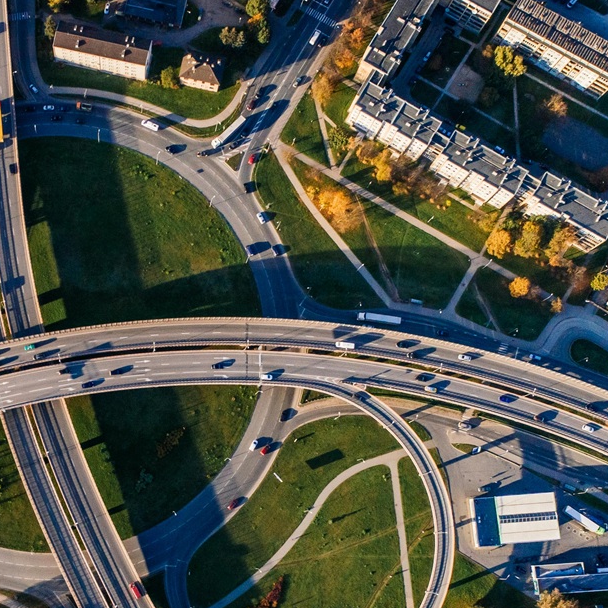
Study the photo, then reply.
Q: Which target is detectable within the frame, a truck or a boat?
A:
truck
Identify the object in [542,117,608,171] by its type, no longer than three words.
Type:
sports court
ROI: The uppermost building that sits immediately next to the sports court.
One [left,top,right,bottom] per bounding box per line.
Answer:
[493,0,608,98]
